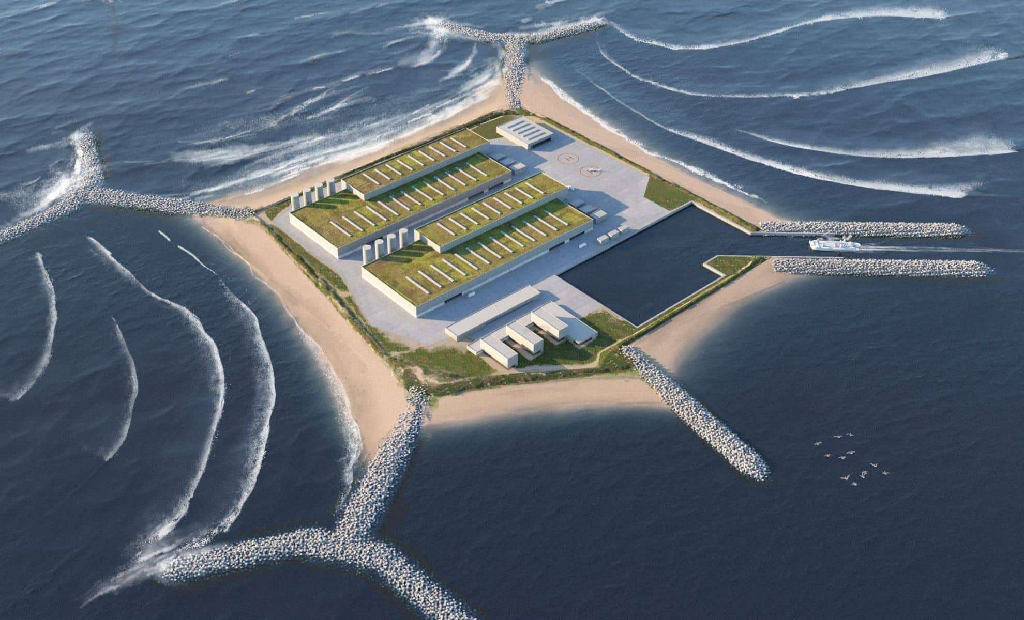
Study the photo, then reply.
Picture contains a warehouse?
Yes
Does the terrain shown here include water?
Yes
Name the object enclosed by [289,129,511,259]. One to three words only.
warehouse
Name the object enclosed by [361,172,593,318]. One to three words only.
warehouse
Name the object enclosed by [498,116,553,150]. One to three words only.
hangar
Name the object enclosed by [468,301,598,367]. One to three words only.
building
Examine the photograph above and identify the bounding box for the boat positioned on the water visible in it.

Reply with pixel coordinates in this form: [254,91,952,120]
[810,232,862,251]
